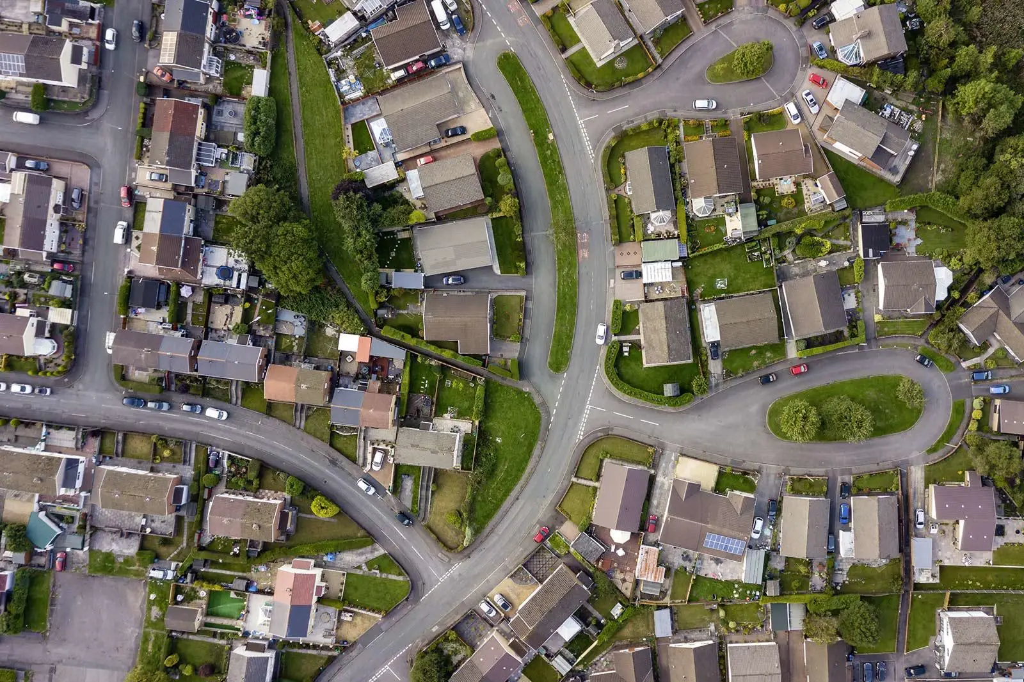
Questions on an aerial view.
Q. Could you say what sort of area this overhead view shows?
residential area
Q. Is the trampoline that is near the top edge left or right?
left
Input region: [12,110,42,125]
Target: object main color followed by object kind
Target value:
white vehicle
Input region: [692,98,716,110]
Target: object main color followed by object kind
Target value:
white vehicle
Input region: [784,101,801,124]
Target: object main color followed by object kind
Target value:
white car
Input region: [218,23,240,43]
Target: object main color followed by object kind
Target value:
black trampoline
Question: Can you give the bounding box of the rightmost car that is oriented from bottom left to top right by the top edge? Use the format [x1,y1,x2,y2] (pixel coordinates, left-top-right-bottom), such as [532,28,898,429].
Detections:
[810,12,833,31]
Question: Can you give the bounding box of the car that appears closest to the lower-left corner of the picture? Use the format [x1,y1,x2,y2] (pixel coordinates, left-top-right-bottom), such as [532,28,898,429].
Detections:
[54,550,67,572]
